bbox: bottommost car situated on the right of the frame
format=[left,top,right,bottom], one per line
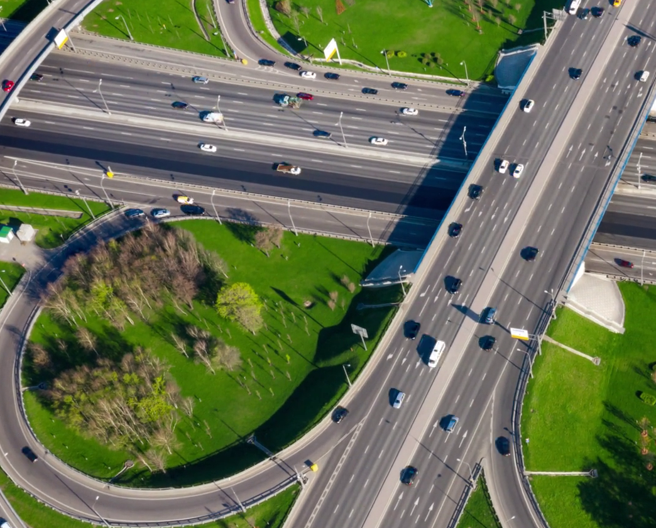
[403,467,417,486]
